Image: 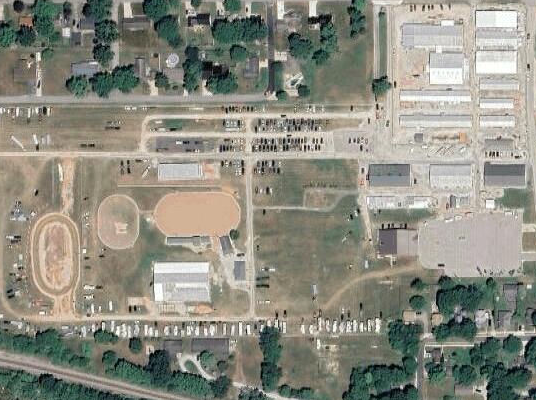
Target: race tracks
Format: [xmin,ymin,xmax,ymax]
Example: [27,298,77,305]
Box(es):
[29,212,81,298]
